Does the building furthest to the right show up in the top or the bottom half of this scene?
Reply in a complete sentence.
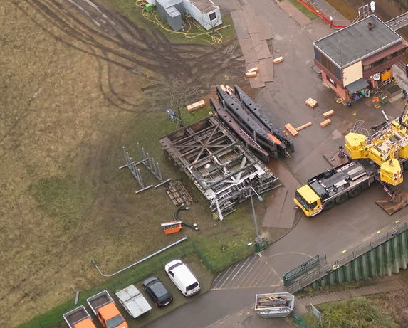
It is in the top half that the building furthest to the right appears.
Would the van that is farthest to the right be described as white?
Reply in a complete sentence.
Yes, the van that is farthest to the right appears white.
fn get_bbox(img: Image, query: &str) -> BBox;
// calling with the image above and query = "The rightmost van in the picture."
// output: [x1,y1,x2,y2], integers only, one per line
[165,259,203,301]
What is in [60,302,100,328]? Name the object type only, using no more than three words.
truck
